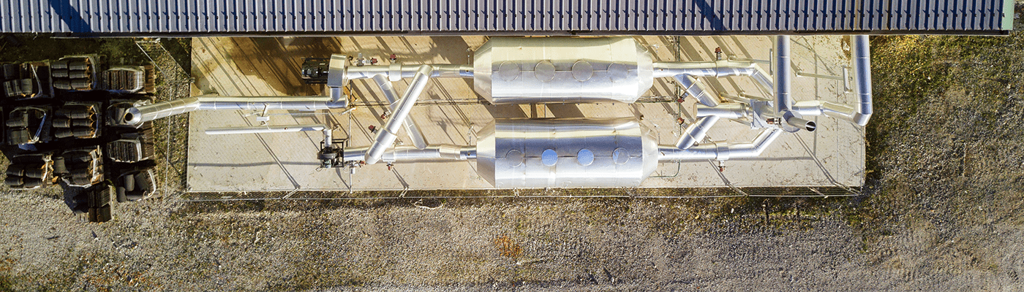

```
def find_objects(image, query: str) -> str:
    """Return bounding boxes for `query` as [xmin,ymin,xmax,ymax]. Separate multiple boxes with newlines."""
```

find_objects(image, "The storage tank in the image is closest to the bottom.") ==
[476,118,661,190]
